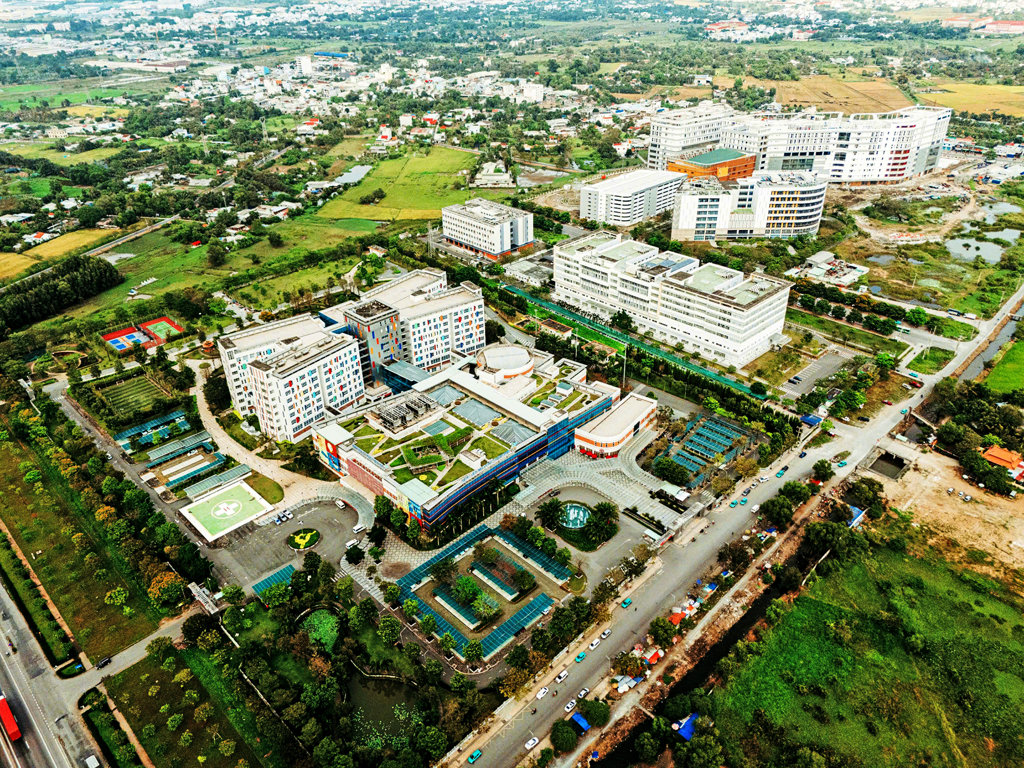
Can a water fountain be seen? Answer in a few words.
Yes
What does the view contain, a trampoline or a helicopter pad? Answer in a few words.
helicopter pad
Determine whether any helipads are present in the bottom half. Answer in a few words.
Yes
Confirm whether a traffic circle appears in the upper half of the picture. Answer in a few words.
No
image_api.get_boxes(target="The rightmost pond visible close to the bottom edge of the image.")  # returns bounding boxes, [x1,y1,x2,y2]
[347,677,425,749]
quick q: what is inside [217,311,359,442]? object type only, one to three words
building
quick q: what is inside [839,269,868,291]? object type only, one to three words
shed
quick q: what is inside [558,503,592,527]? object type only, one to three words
fountain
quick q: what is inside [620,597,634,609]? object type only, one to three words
vehicle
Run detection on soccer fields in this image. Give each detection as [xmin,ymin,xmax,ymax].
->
[95,374,174,417]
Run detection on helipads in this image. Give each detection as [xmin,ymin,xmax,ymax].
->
[179,480,275,543]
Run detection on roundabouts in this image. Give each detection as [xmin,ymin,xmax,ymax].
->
[285,526,323,552]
